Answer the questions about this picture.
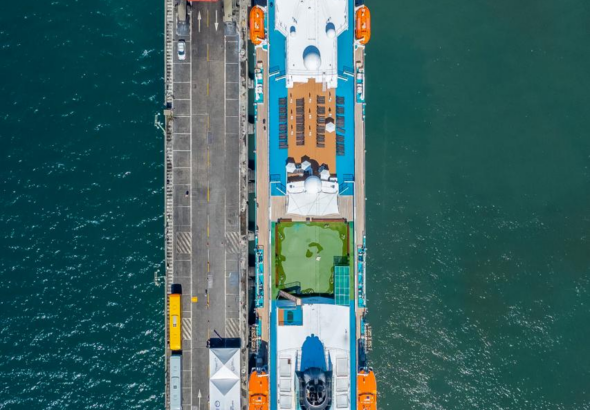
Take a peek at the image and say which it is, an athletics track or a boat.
boat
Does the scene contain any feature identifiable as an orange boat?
Yes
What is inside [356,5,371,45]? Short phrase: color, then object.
orange boat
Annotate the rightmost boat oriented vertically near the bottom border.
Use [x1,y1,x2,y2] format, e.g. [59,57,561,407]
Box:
[357,367,377,410]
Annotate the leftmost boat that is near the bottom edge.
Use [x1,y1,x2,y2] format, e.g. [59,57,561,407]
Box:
[248,368,270,410]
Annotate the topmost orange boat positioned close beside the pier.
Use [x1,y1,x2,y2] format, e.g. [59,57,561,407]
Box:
[249,6,264,46]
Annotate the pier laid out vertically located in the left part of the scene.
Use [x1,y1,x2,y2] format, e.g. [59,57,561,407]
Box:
[166,0,255,410]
